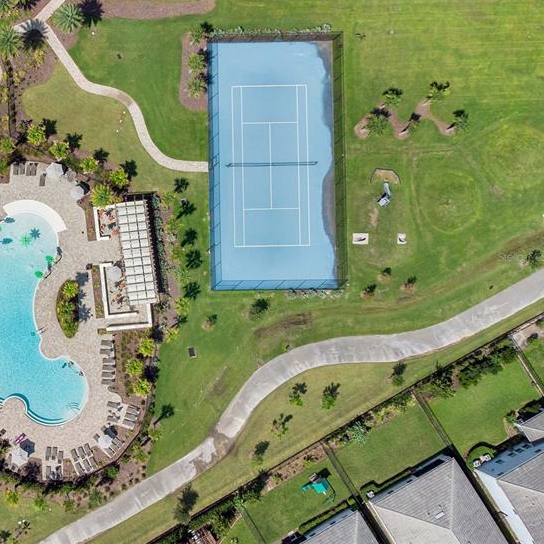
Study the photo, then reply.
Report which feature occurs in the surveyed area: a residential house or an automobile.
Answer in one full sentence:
The image shows a residential house.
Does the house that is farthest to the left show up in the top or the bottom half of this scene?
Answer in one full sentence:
You can find the house that is farthest to the left in the bottom half.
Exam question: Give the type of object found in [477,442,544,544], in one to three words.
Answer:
house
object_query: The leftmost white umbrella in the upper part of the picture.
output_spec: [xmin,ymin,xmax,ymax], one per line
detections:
[44,163,63,182]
